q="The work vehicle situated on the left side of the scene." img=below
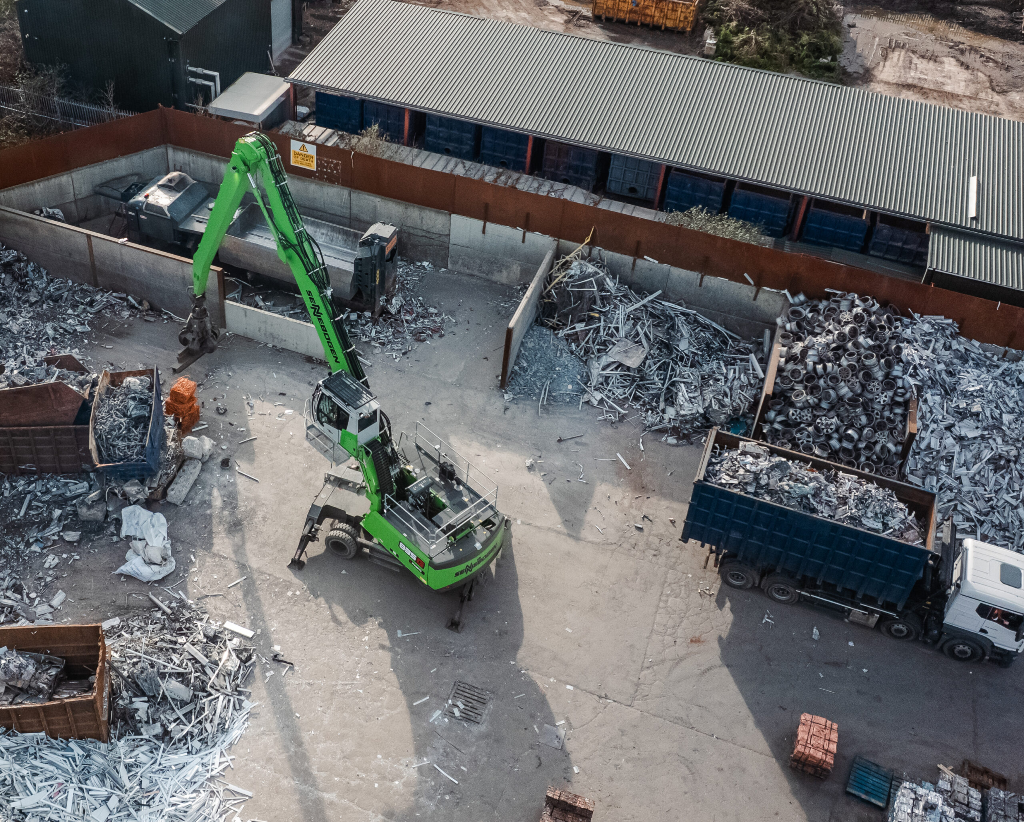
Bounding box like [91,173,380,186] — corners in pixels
[188,126,520,646]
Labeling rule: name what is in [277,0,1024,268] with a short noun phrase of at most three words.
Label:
shed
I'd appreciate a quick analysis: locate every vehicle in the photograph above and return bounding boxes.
[686,523,1024,672]
[188,126,520,646]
